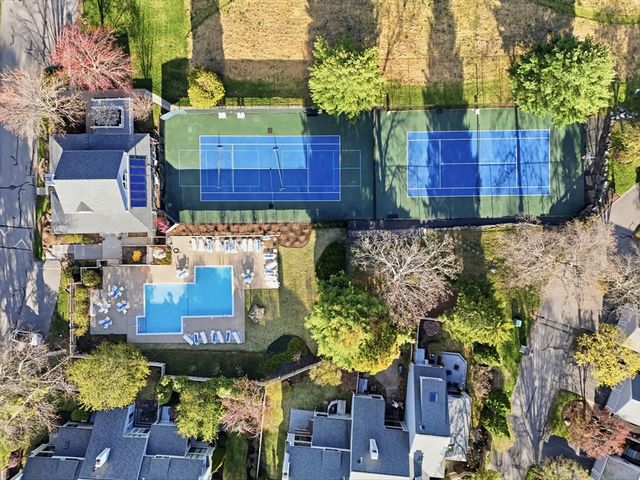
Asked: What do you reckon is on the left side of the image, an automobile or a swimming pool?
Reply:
swimming pool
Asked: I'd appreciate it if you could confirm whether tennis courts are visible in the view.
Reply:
Yes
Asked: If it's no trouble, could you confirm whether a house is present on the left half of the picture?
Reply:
Yes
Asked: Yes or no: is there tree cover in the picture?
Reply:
Yes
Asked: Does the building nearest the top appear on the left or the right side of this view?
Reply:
left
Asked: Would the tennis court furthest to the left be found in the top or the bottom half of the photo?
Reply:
top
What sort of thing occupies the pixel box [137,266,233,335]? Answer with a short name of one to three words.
swimming pool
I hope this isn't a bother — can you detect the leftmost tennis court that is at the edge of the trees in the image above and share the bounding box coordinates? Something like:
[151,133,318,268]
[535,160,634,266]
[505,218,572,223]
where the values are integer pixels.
[164,108,375,221]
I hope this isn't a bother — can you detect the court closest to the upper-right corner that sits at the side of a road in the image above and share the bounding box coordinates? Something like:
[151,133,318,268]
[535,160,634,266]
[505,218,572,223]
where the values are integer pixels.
[376,108,588,221]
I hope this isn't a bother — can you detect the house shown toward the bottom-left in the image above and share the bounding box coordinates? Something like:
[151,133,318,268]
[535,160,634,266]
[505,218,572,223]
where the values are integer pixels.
[21,399,211,480]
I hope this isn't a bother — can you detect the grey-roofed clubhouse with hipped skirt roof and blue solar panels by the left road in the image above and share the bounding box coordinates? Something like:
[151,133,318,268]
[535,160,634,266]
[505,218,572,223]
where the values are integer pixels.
[45,132,158,235]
